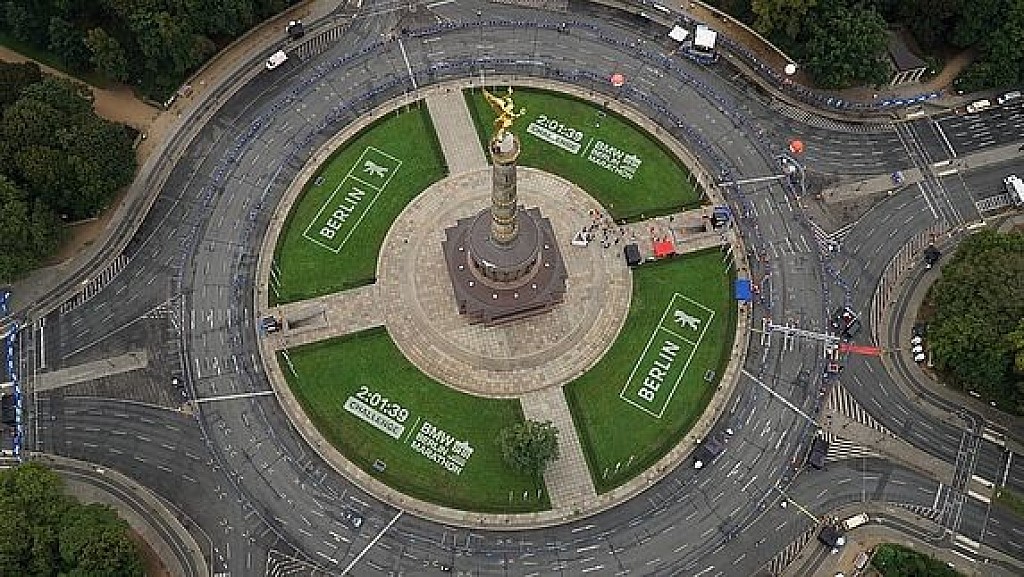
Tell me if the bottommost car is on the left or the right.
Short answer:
right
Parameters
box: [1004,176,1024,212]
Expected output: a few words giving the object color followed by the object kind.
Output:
white vehicle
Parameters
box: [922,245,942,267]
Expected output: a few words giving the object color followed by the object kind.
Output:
black vehicle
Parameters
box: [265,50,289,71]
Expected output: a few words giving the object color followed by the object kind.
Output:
white vehicle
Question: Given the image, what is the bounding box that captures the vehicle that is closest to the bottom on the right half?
[851,549,871,571]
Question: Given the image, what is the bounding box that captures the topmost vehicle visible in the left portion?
[286,24,306,39]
